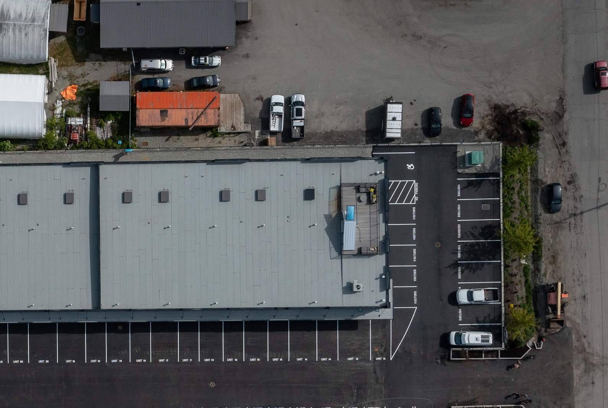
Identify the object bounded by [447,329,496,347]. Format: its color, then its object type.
white vehicle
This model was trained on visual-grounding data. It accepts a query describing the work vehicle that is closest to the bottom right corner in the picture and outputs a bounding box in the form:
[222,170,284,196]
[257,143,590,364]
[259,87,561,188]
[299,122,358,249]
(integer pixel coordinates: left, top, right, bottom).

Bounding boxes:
[545,287,573,327]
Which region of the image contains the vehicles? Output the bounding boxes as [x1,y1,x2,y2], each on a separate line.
[590,60,608,92]
[455,287,499,305]
[457,93,476,128]
[268,95,286,133]
[191,57,221,70]
[447,329,496,347]
[290,94,307,140]
[141,74,171,92]
[140,58,173,76]
[546,183,564,214]
[426,107,443,138]
[68,121,82,142]
[189,73,220,91]
[545,287,573,327]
